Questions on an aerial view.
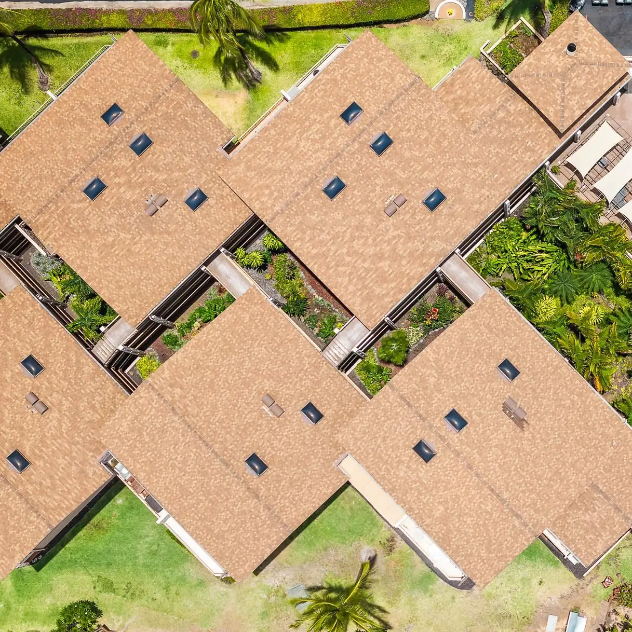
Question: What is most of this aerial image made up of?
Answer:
buildings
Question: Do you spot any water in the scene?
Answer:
No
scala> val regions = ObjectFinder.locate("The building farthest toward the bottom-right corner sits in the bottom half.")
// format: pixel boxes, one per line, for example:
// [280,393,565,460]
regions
[332,286,632,589]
